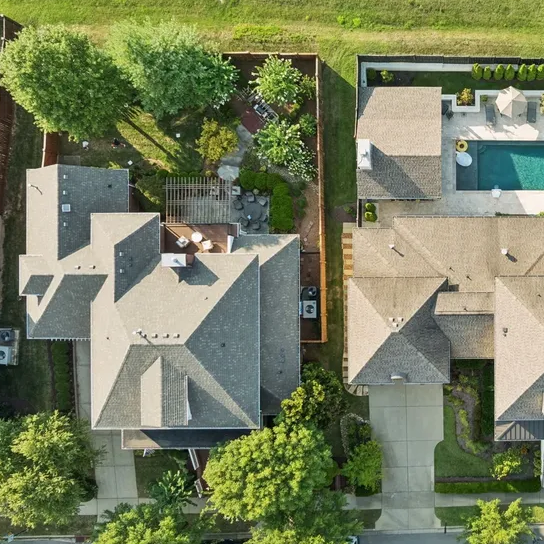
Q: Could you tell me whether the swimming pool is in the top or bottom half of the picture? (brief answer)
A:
top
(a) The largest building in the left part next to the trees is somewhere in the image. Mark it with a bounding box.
[18,164,304,449]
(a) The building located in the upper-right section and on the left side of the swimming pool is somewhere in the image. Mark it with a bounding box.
[357,87,442,201]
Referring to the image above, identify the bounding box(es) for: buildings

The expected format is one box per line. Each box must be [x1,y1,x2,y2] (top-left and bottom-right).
[348,216,544,441]
[18,164,304,449]
[357,87,442,201]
